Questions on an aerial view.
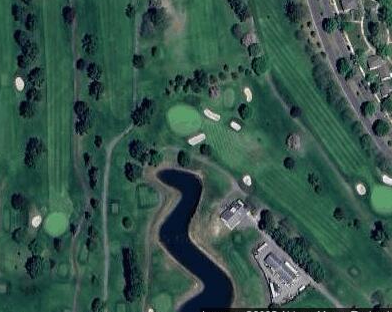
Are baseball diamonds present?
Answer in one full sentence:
No, the scene contains no baseball diamond.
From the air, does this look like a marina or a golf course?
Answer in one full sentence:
The area seen from above is a golf course.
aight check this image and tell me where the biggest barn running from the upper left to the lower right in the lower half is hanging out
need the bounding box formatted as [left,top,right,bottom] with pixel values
[264,252,297,285]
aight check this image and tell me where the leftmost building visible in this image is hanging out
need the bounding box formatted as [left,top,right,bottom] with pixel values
[220,199,246,231]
